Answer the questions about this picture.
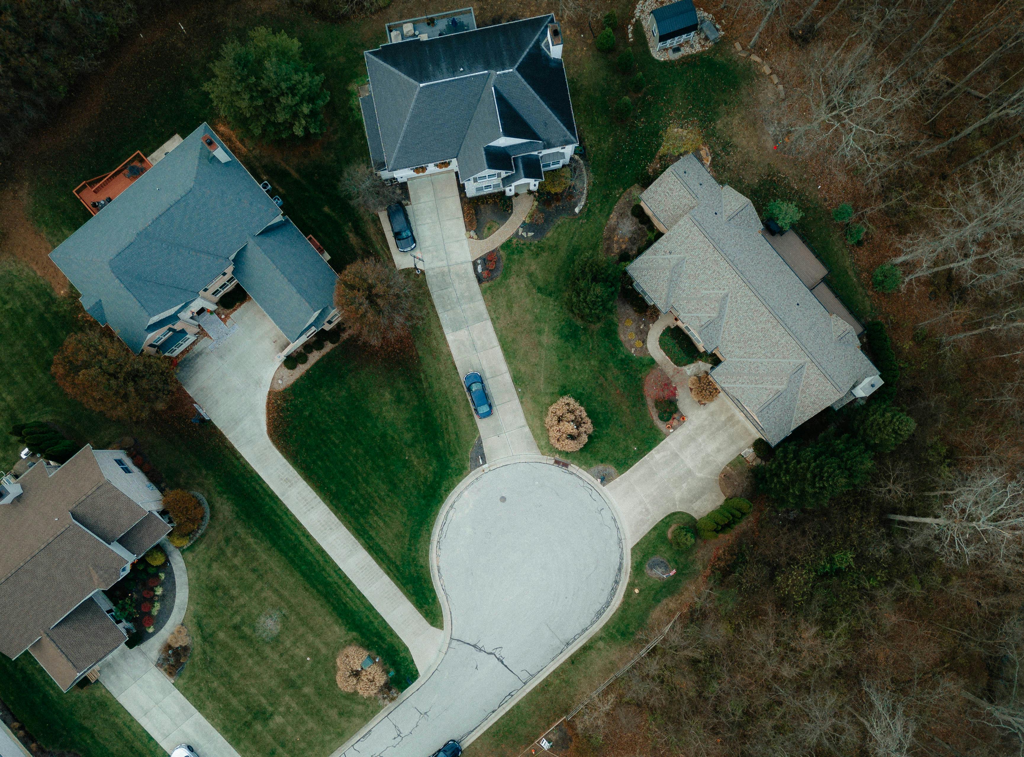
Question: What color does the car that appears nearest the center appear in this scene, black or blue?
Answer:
blue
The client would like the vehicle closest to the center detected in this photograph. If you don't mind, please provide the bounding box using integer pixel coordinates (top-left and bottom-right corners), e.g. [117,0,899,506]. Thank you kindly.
[465,371,493,420]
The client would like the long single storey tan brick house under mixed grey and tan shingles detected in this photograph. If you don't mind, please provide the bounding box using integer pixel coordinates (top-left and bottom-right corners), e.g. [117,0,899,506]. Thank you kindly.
[626,153,884,449]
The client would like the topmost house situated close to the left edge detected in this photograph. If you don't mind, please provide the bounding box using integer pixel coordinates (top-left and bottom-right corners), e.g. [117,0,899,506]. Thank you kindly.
[47,121,353,362]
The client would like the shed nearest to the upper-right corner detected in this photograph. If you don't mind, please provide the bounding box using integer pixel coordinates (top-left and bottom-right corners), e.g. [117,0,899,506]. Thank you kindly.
[648,0,699,52]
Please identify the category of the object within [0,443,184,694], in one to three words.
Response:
house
